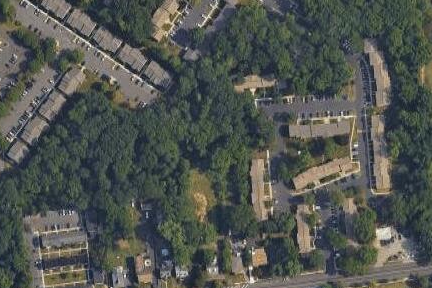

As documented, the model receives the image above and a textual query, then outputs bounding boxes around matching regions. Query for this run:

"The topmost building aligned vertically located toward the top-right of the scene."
[362,39,390,105]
